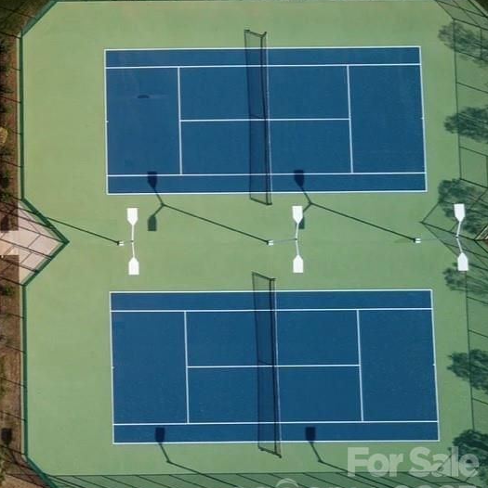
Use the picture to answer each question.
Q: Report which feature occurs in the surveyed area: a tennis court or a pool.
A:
tennis court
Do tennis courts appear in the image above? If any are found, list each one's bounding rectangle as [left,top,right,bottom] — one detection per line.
[105,46,427,194]
[111,291,438,443]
